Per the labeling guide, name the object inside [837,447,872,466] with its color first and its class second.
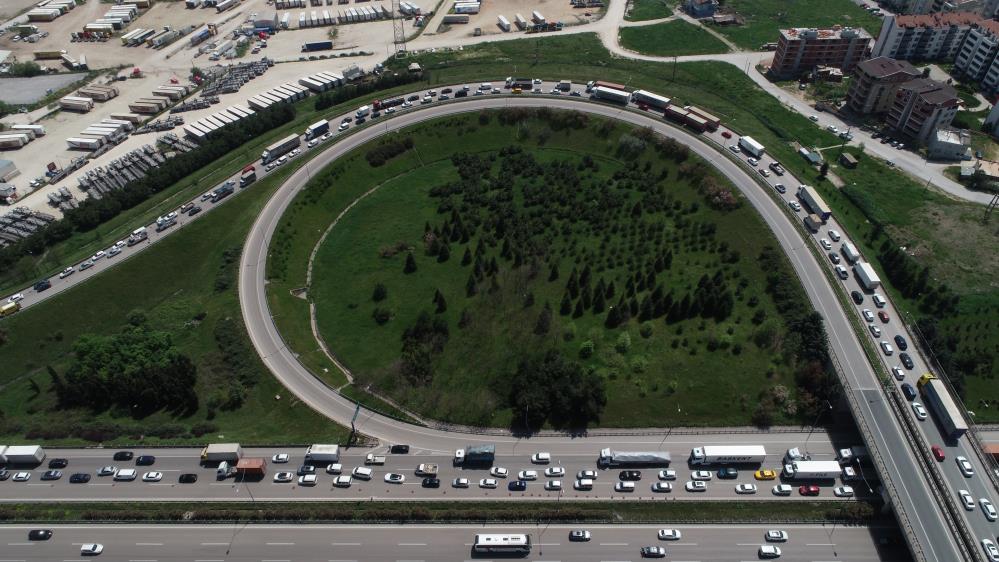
black vehicle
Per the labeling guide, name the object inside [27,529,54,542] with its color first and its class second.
black vehicle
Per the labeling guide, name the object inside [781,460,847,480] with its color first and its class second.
white vehicle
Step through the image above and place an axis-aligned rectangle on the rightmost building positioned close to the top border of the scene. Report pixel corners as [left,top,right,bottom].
[956,25,999,96]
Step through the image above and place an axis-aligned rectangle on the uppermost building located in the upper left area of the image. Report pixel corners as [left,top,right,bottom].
[254,5,281,33]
